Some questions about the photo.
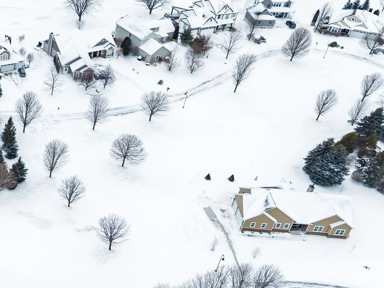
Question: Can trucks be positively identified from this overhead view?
No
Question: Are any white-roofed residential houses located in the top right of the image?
Yes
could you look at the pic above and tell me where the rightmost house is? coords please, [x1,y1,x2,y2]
[323,0,380,42]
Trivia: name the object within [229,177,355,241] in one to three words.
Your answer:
house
